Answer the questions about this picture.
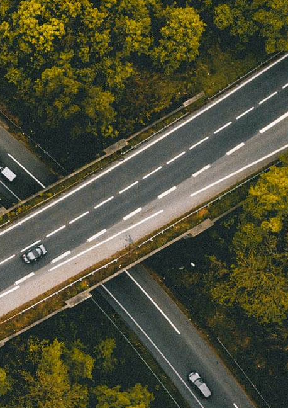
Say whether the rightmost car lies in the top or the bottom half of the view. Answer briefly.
bottom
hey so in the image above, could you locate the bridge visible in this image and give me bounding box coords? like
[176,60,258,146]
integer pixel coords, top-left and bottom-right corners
[0,91,249,348]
